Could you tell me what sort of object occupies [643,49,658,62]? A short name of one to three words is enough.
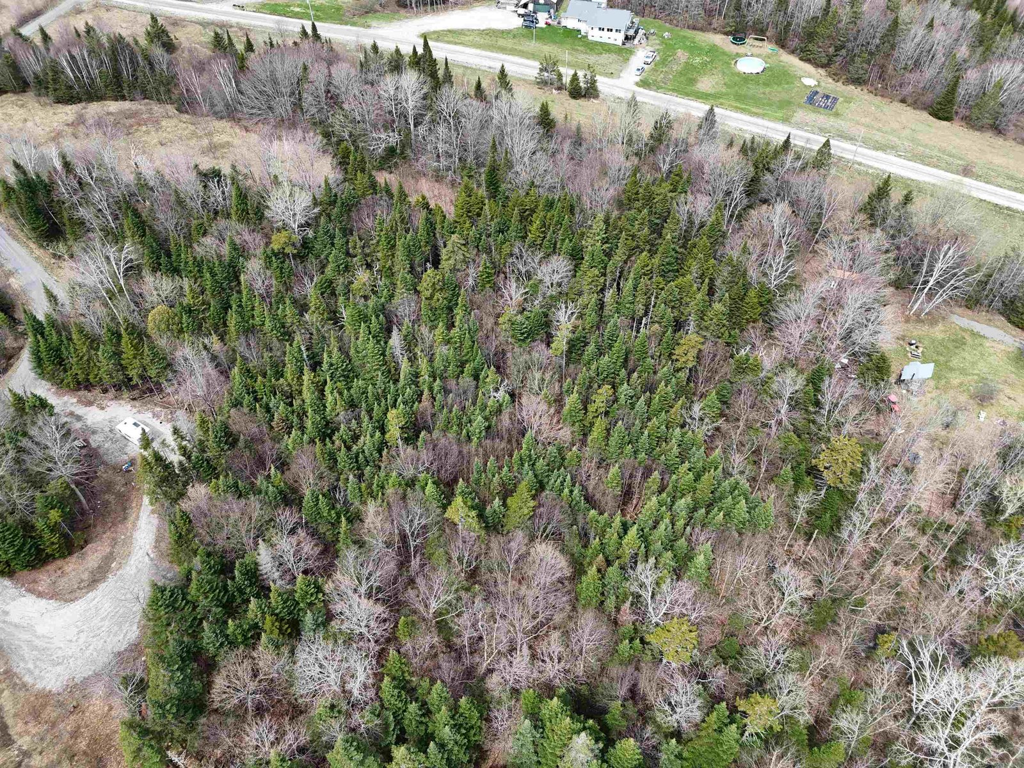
vehicle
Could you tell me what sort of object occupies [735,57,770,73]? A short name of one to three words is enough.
swimming pool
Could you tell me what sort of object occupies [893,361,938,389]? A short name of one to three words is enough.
shed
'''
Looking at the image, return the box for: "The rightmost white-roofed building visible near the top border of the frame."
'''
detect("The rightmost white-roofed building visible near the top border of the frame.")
[563,0,632,43]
